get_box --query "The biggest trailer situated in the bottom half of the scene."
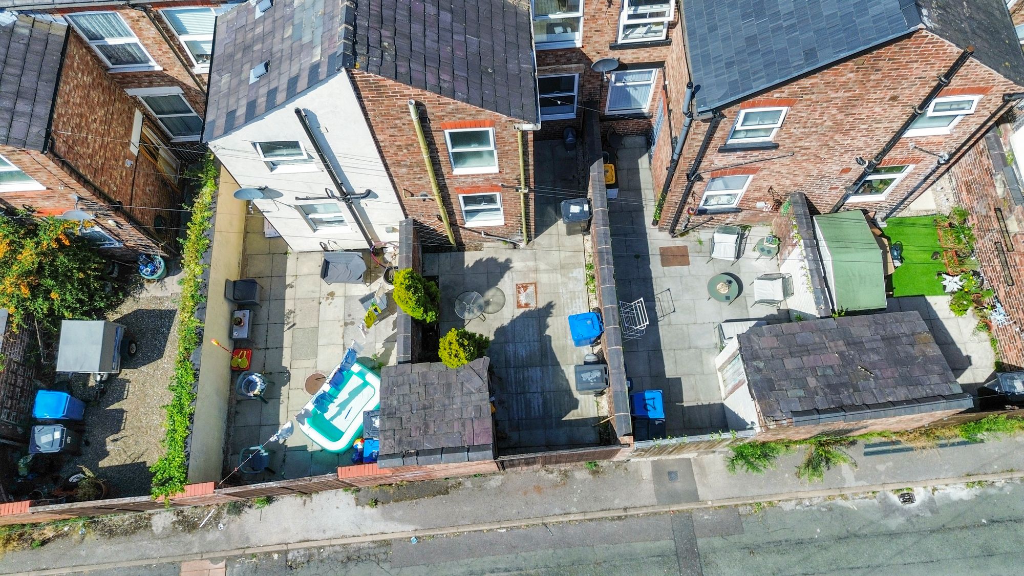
[54,320,140,422]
